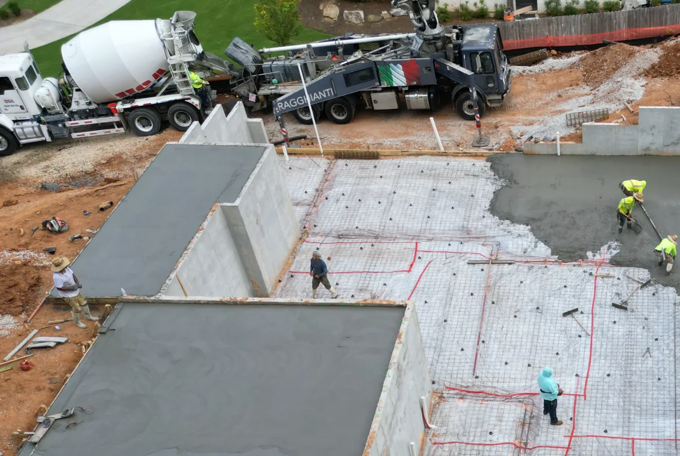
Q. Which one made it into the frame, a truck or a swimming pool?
truck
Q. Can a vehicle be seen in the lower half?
No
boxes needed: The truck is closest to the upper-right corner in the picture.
[212,0,514,145]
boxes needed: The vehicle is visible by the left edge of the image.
[0,7,251,150]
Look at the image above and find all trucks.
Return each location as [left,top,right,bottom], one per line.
[0,7,251,150]
[212,0,514,145]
